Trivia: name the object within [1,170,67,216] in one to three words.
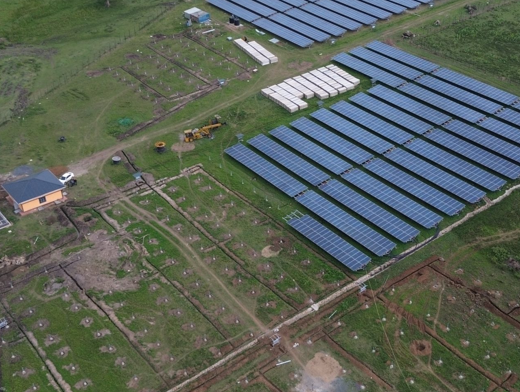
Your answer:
house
